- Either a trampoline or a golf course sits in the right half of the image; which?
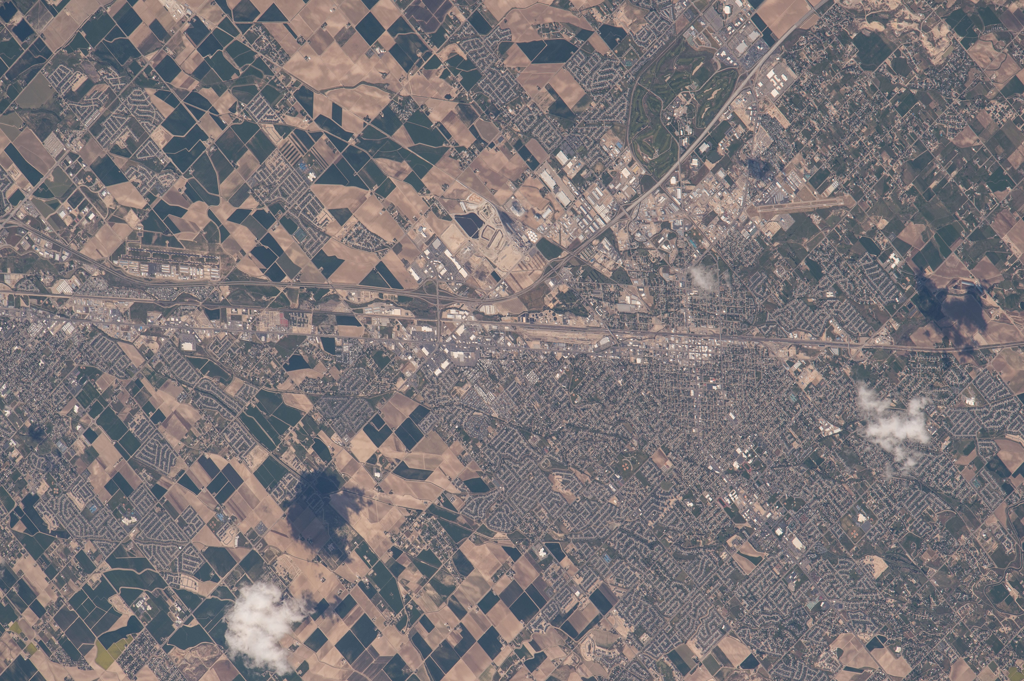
golf course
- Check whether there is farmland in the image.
Yes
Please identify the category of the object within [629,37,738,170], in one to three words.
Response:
golf course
